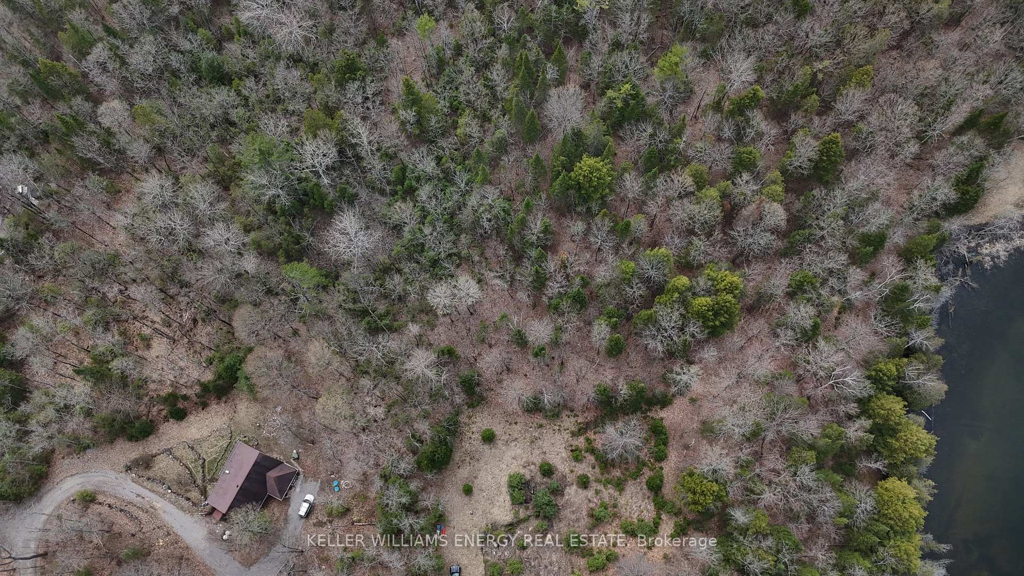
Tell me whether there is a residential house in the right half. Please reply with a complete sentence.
No, there's no residential house to be seen in the right half.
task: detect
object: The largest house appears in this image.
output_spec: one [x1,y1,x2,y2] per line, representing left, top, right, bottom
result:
[205,441,300,527]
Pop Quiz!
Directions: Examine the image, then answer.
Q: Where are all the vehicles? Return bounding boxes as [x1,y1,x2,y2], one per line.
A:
[449,562,461,576]
[294,493,316,521]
